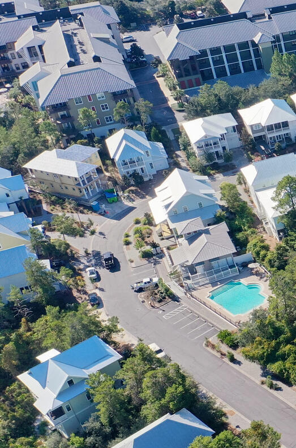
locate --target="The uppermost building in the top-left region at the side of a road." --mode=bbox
[0,19,146,142]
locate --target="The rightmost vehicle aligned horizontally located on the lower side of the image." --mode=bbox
[129,273,160,289]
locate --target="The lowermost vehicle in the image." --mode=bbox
[142,335,167,359]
